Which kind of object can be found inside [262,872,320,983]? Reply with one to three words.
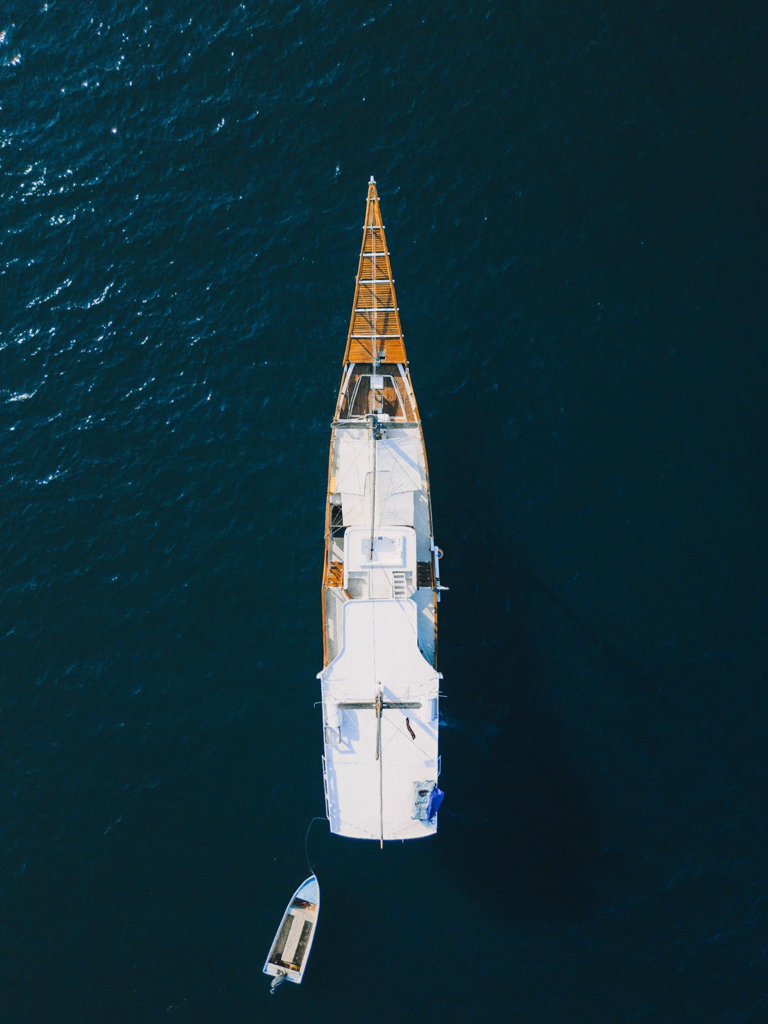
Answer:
boat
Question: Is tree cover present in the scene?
No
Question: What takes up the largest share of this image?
water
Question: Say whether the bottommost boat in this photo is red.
No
